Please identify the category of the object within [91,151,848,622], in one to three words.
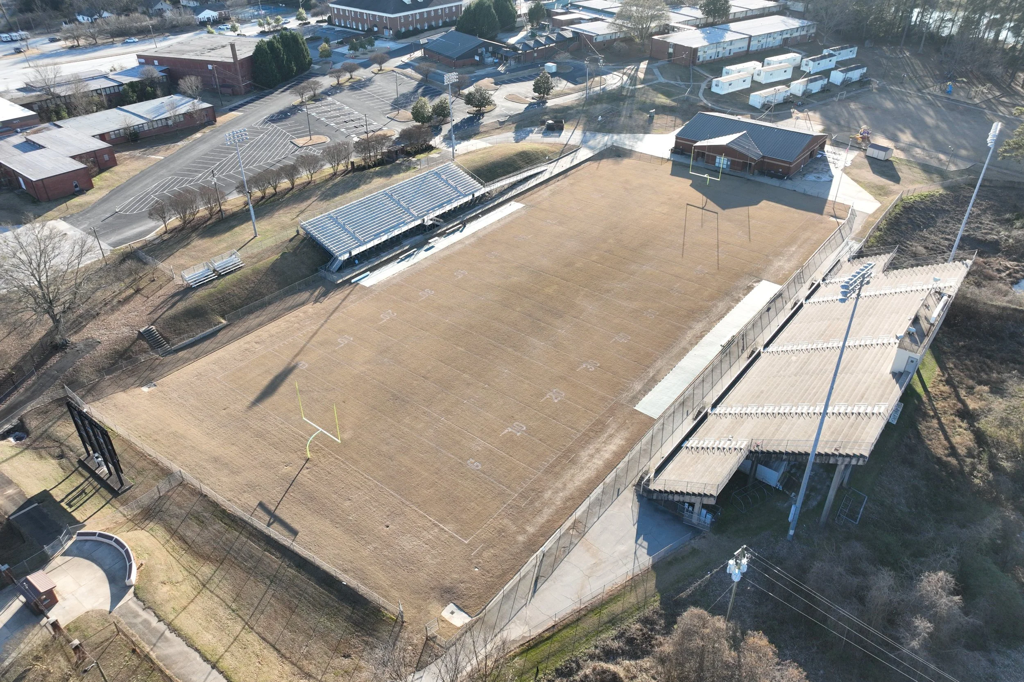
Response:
sports field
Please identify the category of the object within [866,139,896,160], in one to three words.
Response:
shed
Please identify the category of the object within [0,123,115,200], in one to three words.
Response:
building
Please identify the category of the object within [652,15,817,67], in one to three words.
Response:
building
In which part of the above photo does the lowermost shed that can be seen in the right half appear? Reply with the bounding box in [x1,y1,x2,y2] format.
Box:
[763,458,819,502]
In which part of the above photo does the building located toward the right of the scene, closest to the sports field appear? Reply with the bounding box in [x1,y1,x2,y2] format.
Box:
[674,108,836,175]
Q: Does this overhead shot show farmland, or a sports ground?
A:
sports ground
